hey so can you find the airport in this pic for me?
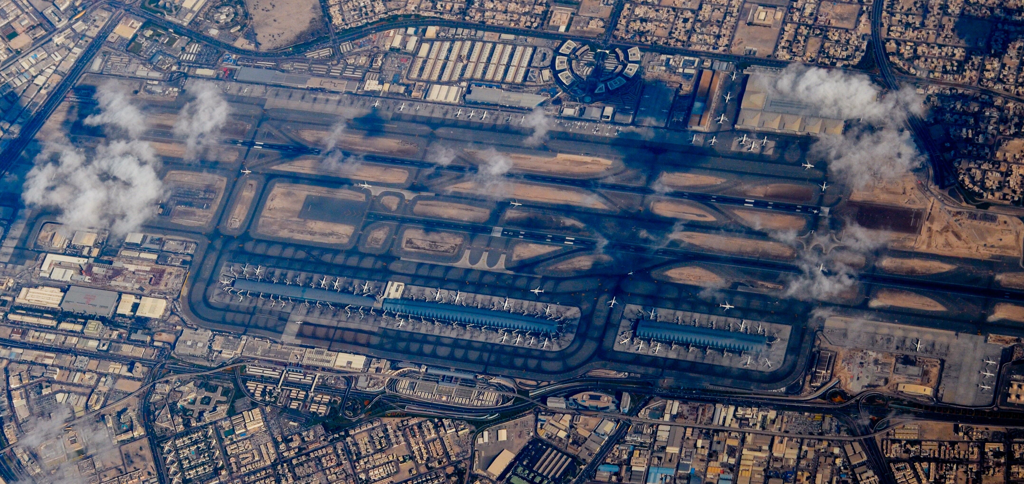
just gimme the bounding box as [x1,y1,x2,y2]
[0,77,1024,408]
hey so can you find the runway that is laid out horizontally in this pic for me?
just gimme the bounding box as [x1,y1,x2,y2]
[130,124,1024,301]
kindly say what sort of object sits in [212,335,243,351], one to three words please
building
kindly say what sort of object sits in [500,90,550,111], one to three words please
hangar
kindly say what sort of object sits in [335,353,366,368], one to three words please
building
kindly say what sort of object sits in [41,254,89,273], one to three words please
hangar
